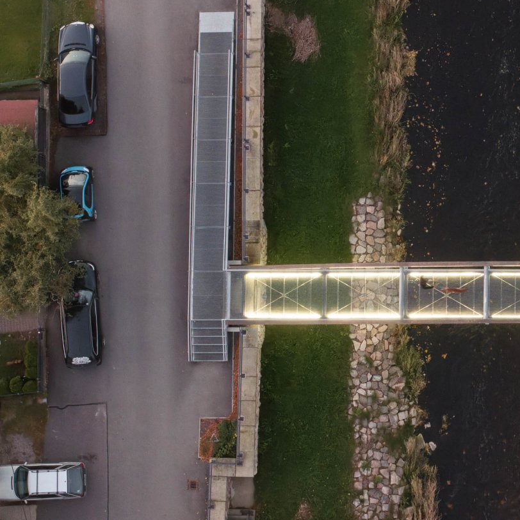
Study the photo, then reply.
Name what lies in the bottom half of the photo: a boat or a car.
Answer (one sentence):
The one visible in the bottom half of the photo is a car.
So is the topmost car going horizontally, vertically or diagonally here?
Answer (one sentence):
The topmost car has been laid out vertically relative to the frame.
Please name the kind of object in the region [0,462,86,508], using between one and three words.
car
